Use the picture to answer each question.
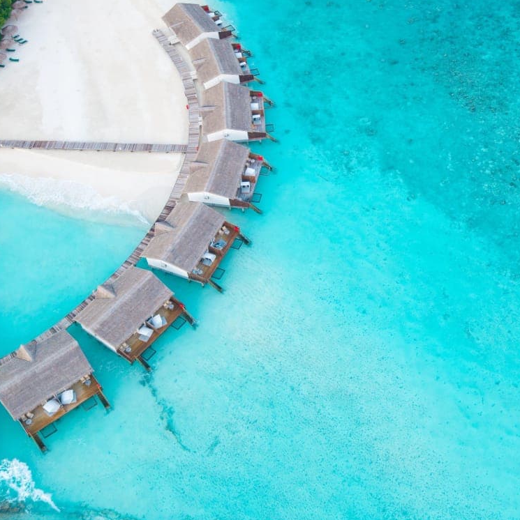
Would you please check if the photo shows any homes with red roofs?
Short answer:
No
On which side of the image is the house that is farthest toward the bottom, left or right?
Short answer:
left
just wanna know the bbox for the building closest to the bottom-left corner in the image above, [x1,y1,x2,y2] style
[0,330,112,455]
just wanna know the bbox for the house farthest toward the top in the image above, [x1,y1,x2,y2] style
[160,3,246,53]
